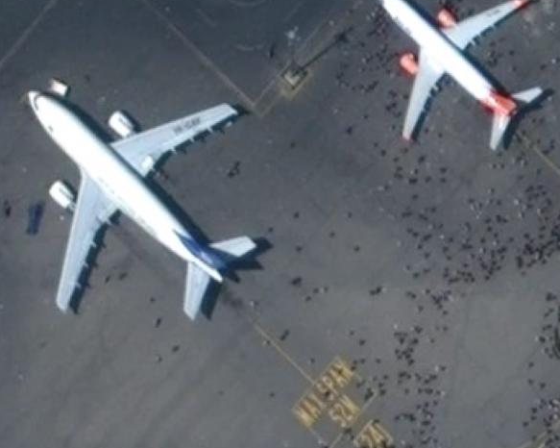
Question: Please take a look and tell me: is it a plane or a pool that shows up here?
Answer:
plane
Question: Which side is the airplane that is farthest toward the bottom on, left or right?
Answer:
left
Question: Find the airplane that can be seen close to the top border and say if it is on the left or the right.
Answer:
right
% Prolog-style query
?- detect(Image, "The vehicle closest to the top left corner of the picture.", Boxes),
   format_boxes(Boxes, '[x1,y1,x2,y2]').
[46,82,70,100]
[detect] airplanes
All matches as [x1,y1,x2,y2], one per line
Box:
[27,91,256,319]
[380,0,545,151]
